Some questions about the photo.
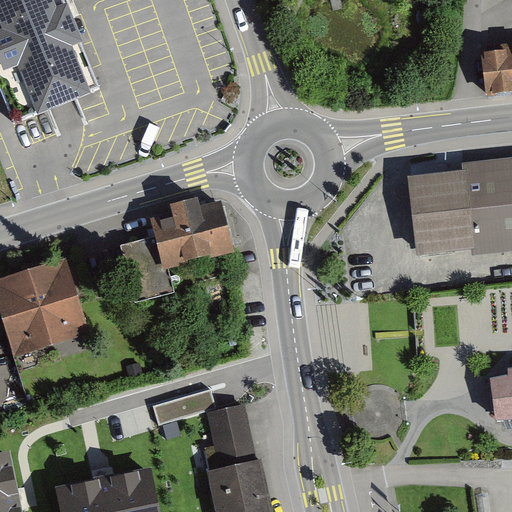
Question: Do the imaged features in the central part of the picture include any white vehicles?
Yes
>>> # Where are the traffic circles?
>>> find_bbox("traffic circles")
[232,106,346,220]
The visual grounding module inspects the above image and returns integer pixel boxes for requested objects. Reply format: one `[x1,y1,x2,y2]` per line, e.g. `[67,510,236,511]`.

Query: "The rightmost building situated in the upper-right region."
[482,44,512,96]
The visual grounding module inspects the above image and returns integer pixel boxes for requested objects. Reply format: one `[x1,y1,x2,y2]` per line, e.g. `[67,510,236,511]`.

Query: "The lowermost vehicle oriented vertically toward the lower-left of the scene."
[109,416,122,440]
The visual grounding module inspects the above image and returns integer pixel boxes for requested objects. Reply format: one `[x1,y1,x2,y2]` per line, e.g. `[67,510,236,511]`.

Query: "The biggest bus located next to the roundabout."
[289,205,311,268]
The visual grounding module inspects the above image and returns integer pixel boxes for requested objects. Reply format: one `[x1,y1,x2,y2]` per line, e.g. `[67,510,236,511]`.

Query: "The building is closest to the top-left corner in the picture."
[0,0,99,136]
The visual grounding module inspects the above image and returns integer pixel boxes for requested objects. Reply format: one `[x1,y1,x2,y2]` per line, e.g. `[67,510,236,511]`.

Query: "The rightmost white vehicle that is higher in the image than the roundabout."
[232,7,248,30]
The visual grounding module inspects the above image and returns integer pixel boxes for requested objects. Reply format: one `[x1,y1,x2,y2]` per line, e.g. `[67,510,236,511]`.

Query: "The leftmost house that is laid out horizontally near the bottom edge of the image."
[55,467,160,512]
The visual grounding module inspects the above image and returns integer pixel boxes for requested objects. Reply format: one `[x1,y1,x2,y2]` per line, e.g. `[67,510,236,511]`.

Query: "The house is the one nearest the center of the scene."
[150,198,234,269]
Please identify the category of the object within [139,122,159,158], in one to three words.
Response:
vehicle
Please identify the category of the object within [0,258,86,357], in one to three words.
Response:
house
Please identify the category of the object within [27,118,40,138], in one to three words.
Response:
vehicle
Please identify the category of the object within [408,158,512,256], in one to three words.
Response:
building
